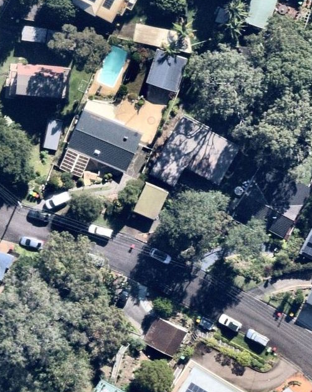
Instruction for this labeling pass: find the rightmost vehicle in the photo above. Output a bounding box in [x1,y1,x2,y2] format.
[244,329,270,349]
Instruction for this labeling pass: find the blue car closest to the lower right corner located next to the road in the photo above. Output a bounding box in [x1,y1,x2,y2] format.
[196,317,215,330]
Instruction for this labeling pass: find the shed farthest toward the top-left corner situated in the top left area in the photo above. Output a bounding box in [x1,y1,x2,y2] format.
[21,26,47,43]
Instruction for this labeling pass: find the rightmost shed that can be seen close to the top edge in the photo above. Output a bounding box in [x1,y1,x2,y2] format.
[245,0,277,27]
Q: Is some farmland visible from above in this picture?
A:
No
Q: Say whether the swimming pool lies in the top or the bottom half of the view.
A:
top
